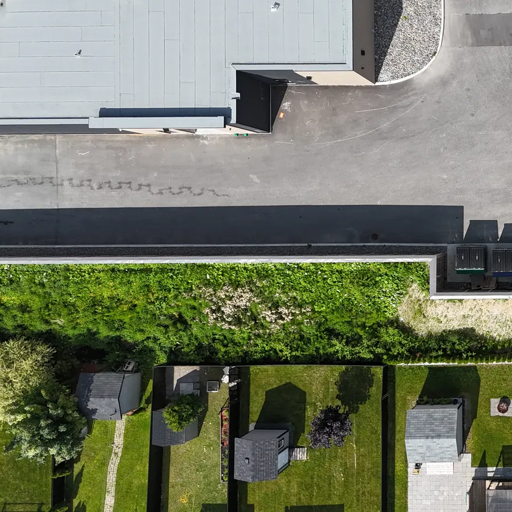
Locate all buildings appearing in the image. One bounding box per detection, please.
[404,402,462,463]
[235,429,290,484]
[153,405,197,447]
[73,368,141,421]
[0,0,375,135]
